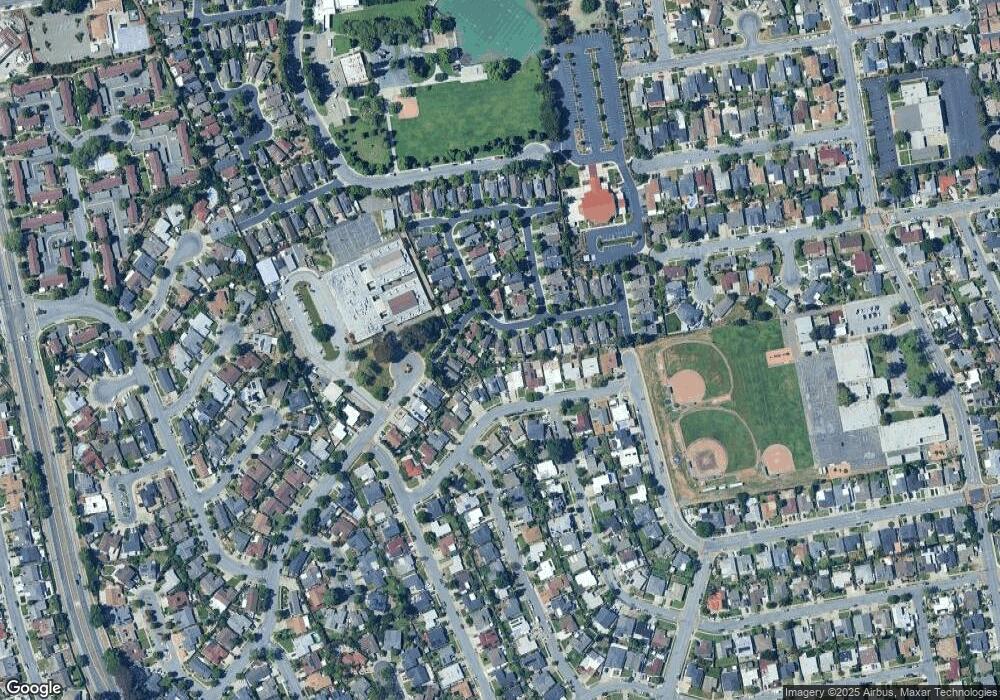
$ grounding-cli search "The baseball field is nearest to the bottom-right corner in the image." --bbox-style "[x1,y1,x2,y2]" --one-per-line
[763,444,795,475]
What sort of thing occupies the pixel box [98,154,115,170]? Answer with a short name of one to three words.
swimming pool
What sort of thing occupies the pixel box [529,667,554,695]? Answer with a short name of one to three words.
house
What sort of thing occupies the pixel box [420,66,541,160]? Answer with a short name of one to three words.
sports field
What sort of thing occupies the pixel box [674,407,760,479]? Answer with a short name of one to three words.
baseball field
